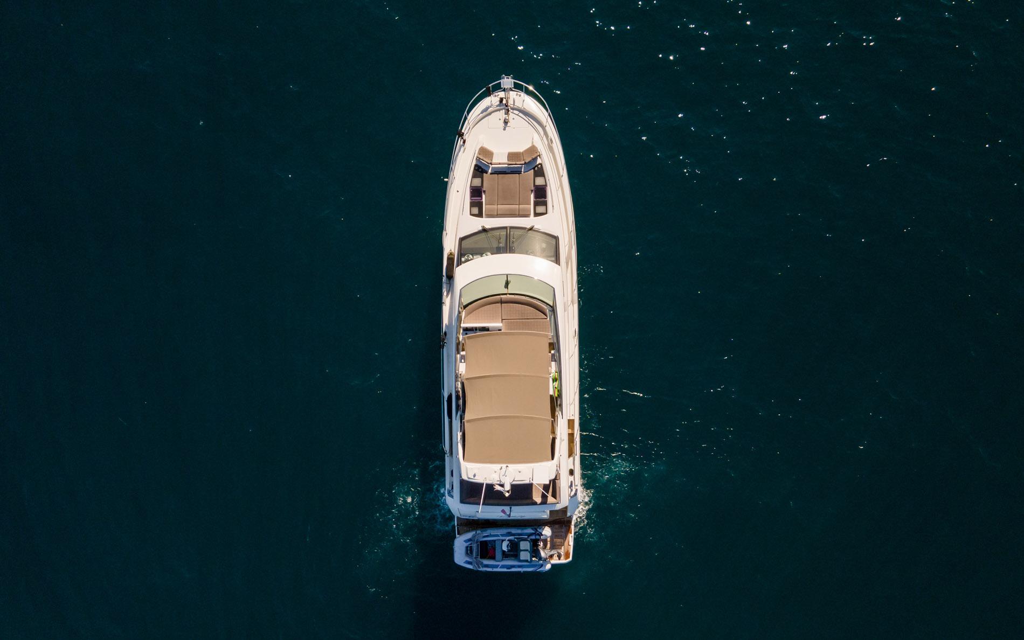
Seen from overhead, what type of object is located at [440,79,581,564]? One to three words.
boat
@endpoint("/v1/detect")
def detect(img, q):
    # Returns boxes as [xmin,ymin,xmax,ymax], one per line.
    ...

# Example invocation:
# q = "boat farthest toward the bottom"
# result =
[453,527,564,572]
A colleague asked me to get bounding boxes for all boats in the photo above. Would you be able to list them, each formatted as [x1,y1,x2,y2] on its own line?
[440,79,581,564]
[453,527,564,572]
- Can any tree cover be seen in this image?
No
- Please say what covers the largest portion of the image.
water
